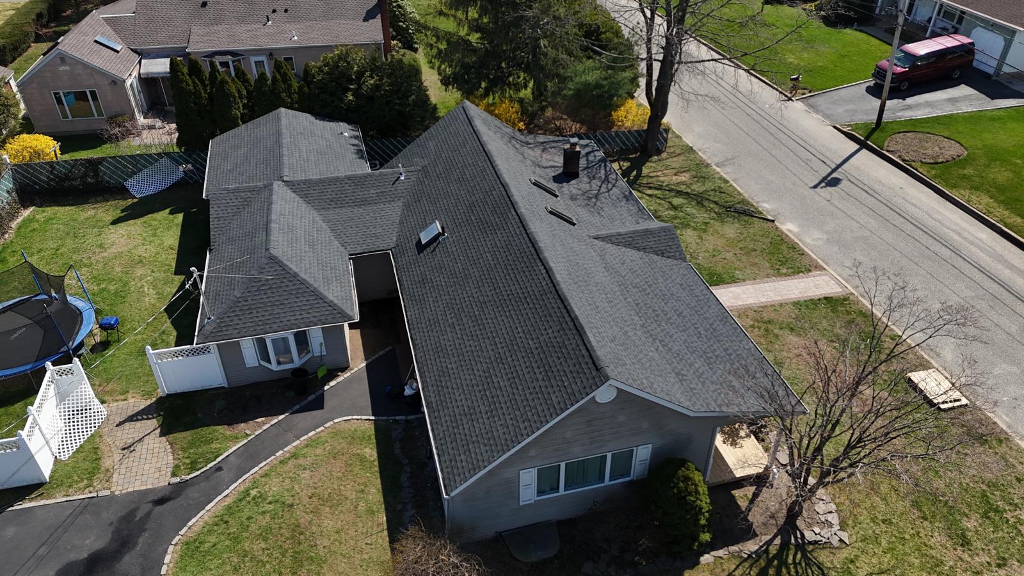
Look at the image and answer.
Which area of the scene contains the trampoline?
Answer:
left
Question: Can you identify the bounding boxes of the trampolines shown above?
[0,240,100,381]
